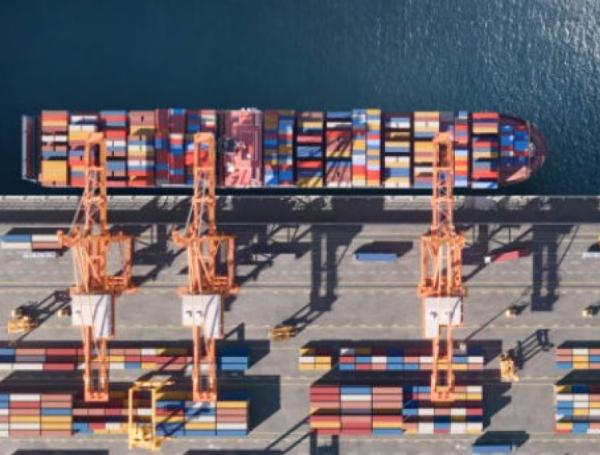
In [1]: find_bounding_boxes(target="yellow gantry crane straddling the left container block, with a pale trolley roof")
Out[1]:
[128,377,172,447]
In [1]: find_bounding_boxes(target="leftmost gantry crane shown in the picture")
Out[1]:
[59,134,148,402]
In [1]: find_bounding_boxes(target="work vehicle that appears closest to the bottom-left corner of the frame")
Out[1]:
[9,316,40,331]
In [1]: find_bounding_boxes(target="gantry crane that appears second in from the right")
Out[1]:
[176,134,248,402]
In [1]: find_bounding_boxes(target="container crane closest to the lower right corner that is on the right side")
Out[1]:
[411,134,471,402]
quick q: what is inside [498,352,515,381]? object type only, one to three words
work vehicle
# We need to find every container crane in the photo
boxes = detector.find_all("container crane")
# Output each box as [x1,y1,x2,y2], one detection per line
[411,134,471,402]
[176,134,248,402]
[59,134,148,402]
[128,377,172,447]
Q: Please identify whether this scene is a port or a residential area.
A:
port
